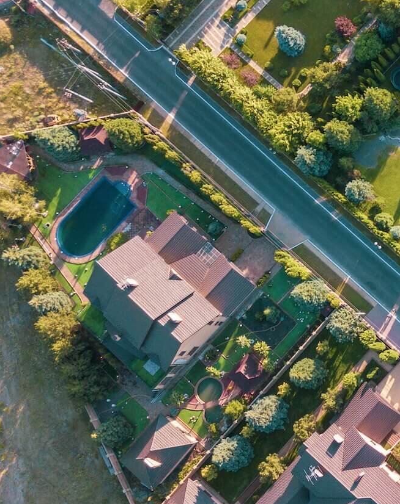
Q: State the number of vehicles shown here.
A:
0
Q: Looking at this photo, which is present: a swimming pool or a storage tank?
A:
swimming pool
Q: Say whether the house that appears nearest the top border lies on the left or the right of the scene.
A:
left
